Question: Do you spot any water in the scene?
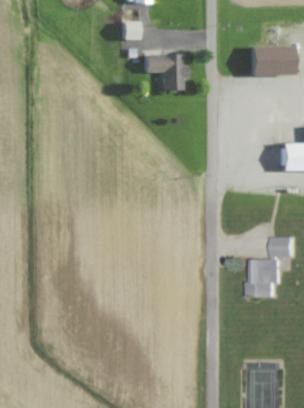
No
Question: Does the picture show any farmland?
Yes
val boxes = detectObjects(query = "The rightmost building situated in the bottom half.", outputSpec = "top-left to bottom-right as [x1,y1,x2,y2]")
[268,238,294,260]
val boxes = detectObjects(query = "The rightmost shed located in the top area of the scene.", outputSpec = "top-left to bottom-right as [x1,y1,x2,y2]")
[281,143,304,173]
